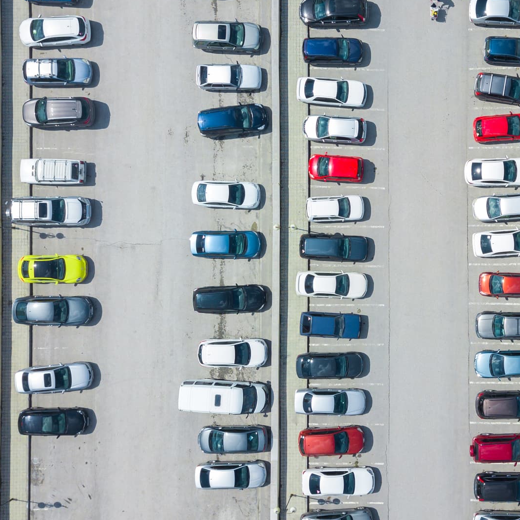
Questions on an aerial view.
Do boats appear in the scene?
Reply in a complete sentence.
No, there's no boat here.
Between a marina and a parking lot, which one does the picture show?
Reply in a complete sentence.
The area seen from above is a parking lot.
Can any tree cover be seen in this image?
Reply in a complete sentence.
No, no tree cover is visible.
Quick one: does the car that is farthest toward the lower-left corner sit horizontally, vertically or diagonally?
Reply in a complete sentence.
What the image shows is the car that is farthest toward the lower-left corner lying horizontally.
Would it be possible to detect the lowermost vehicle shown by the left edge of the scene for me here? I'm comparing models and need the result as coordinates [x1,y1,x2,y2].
[16,405,90,439]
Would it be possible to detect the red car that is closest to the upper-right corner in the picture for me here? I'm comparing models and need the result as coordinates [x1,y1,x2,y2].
[473,110,520,145]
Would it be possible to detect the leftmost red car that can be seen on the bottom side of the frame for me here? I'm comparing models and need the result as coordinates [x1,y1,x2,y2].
[298,423,365,458]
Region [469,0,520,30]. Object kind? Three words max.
car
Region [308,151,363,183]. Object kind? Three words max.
car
